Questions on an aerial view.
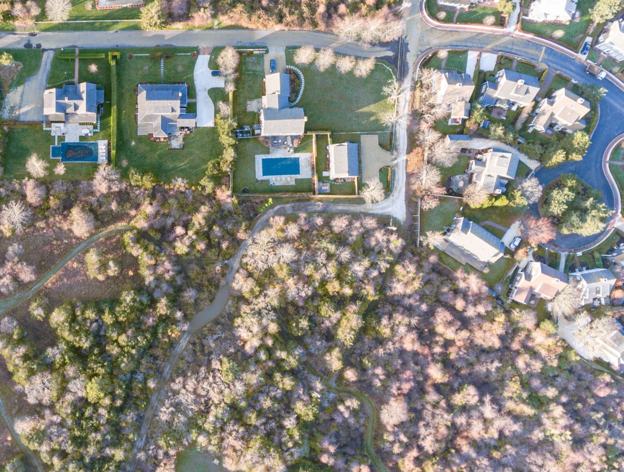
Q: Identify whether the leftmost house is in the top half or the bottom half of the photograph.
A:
top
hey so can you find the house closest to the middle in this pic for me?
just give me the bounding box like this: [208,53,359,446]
[322,142,359,178]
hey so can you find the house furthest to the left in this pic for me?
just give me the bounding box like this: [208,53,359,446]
[44,80,105,123]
